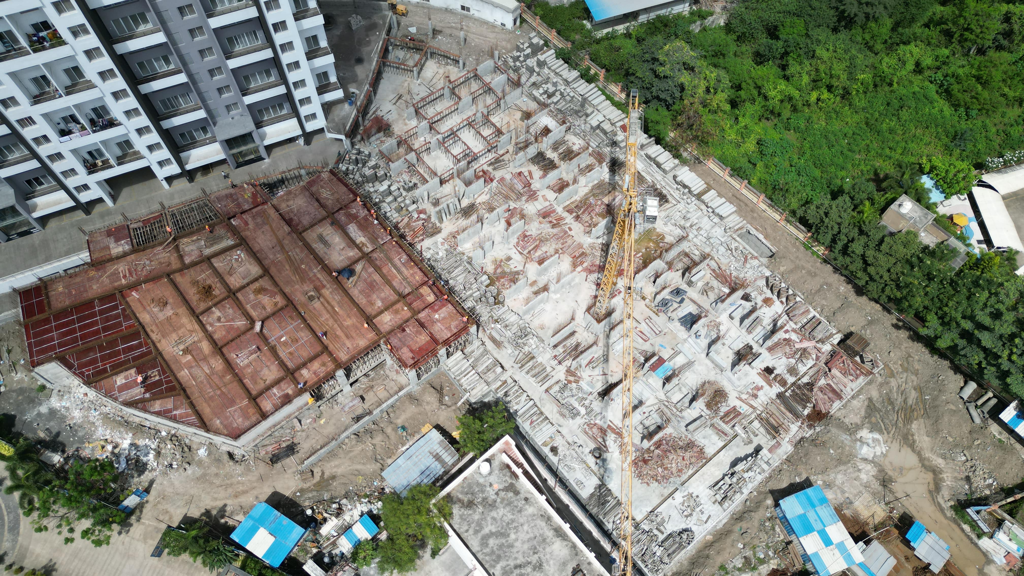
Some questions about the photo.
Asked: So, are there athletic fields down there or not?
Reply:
No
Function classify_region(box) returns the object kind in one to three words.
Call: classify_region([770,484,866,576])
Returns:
shed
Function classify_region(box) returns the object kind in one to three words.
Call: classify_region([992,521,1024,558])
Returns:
shed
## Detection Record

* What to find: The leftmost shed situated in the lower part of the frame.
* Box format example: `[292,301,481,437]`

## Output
[123,489,158,520]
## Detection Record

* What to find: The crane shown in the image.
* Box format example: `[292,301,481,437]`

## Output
[595,86,658,576]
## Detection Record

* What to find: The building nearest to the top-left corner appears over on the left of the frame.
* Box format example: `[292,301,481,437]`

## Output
[0,0,344,243]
